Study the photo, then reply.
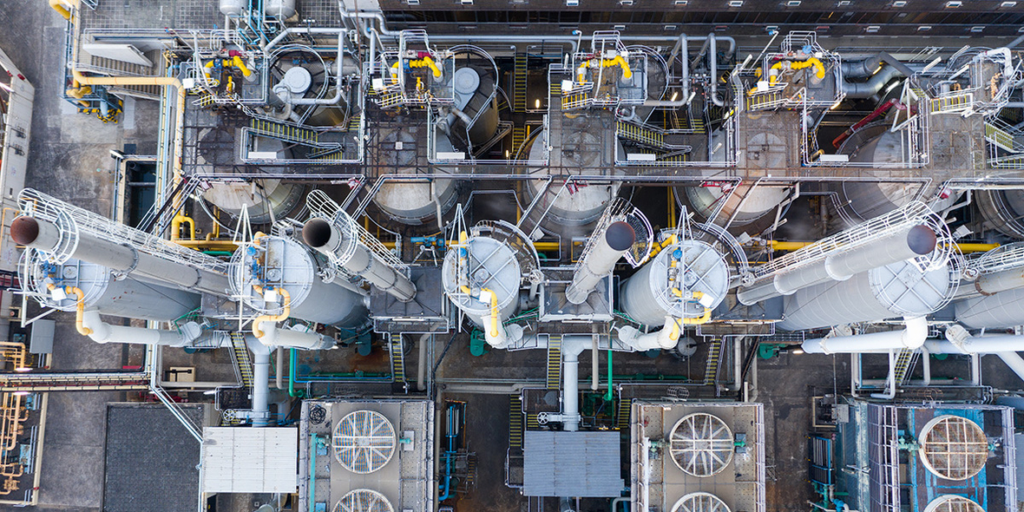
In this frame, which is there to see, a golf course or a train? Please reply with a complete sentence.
Of the two, only a train appears.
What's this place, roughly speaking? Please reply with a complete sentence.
This looks like an industrial area.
